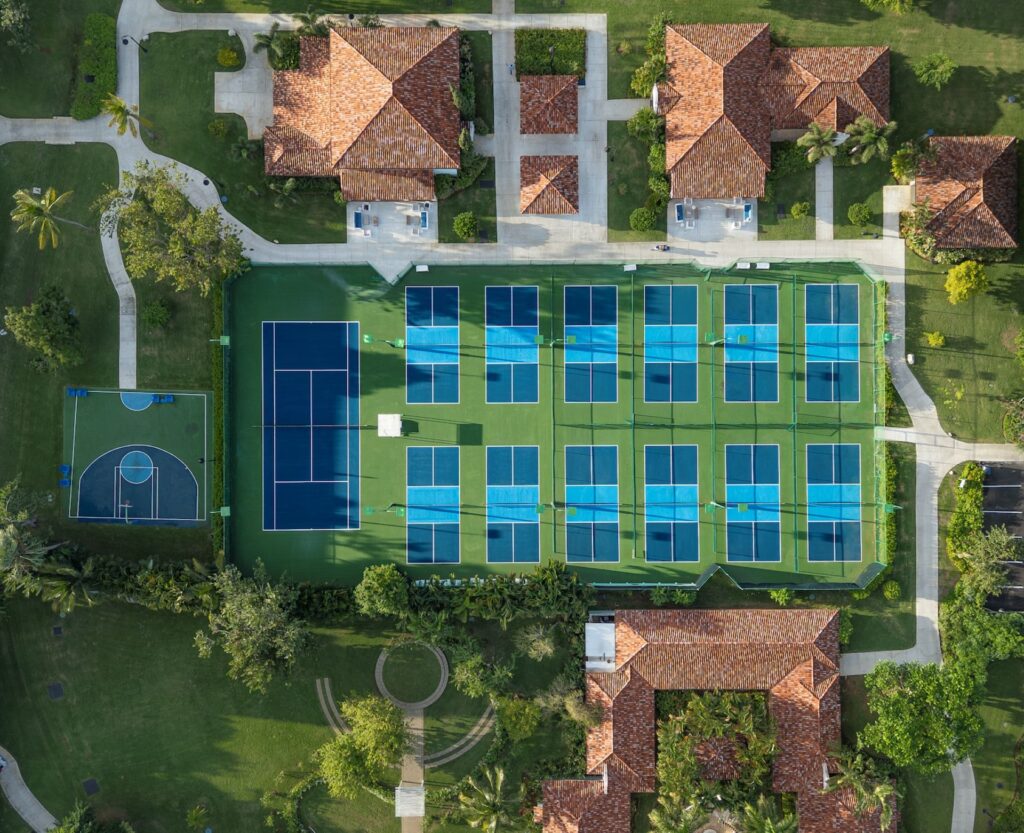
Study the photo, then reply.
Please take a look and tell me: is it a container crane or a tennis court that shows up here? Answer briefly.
tennis court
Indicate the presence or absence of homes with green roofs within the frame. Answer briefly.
No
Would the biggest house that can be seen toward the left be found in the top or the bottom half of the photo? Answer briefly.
top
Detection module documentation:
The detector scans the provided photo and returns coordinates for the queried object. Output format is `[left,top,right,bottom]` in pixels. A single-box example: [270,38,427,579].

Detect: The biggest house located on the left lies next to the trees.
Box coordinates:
[264,26,474,202]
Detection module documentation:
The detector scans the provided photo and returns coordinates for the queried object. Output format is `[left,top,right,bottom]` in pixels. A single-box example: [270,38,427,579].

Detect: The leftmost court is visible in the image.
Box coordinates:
[62,387,211,526]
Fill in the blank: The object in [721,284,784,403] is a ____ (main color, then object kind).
blue sports court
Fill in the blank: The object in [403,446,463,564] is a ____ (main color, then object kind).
blue sports court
